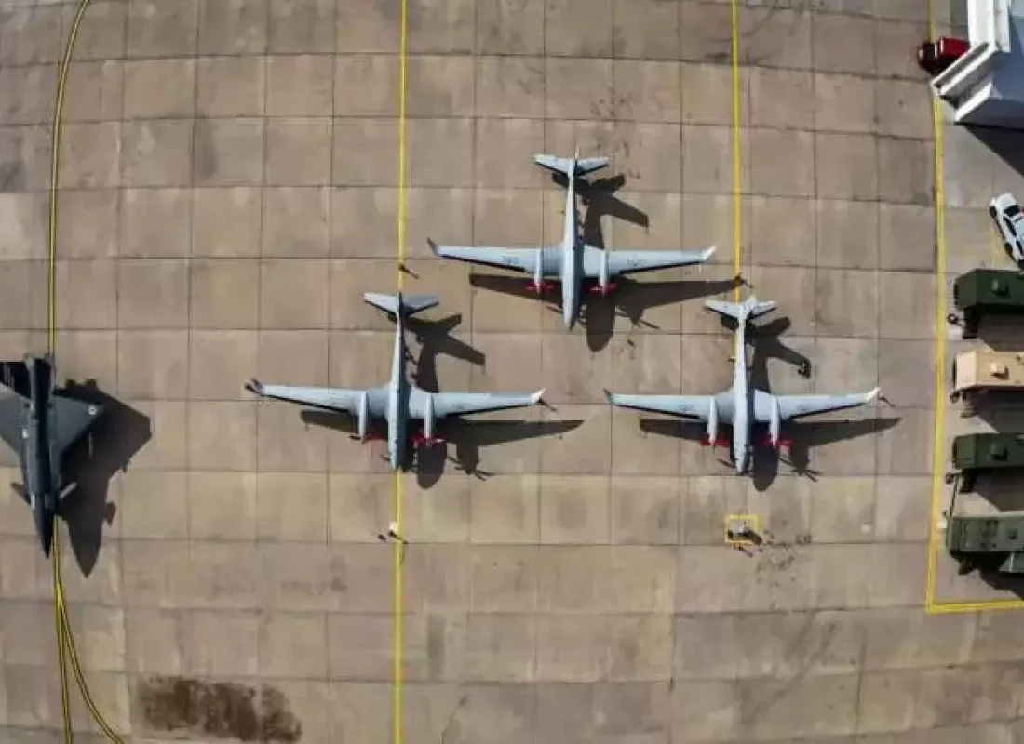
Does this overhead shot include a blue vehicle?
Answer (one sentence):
No, no blue vehicle is visible in the view.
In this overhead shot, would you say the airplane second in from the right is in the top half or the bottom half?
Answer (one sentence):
The airplane second in from the right sits in the top half of the picture.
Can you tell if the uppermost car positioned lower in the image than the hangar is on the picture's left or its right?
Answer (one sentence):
The uppermost car positioned lower in the image than the hangar sits on the right side.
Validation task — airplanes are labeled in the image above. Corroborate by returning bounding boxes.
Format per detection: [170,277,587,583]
[427,142,714,331]
[250,289,540,472]
[0,354,106,562]
[601,297,882,474]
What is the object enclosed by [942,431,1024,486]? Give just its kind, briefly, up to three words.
trailer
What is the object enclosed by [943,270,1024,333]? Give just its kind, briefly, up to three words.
trailer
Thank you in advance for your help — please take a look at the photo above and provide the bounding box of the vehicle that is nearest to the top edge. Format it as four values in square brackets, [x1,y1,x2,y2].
[916,36,972,73]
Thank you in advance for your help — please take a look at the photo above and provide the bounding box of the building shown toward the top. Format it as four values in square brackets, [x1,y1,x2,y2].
[931,0,1024,125]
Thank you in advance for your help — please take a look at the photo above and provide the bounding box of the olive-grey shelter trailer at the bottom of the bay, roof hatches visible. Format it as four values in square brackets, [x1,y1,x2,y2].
[939,510,1024,569]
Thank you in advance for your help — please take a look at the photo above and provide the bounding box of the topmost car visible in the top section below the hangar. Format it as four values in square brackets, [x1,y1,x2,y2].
[984,191,1024,261]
